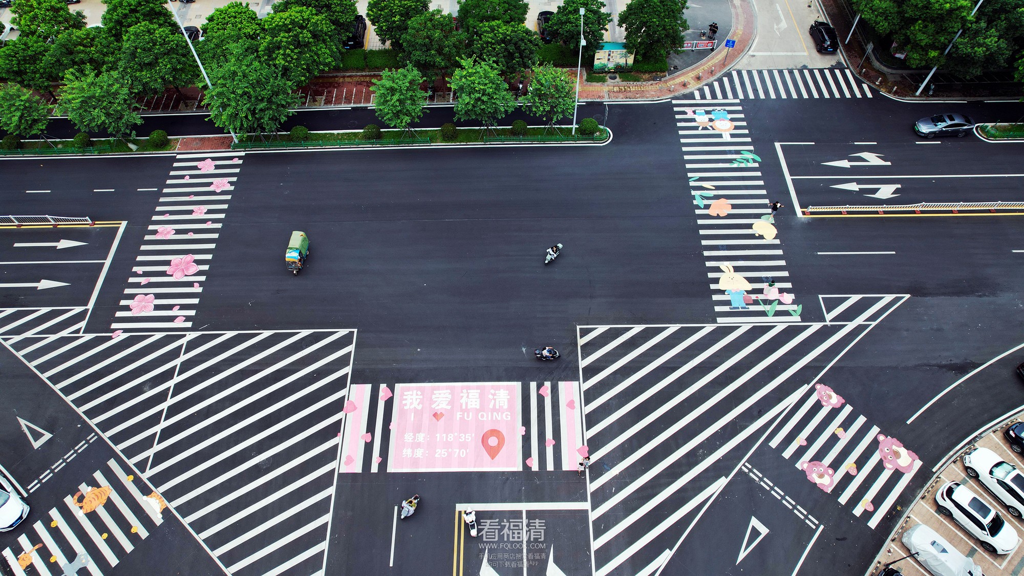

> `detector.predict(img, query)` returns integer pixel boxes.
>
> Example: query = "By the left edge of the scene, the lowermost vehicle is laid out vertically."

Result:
[0,476,24,527]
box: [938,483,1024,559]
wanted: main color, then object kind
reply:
white car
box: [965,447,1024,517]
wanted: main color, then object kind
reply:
white car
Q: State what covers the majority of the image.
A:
paved ground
